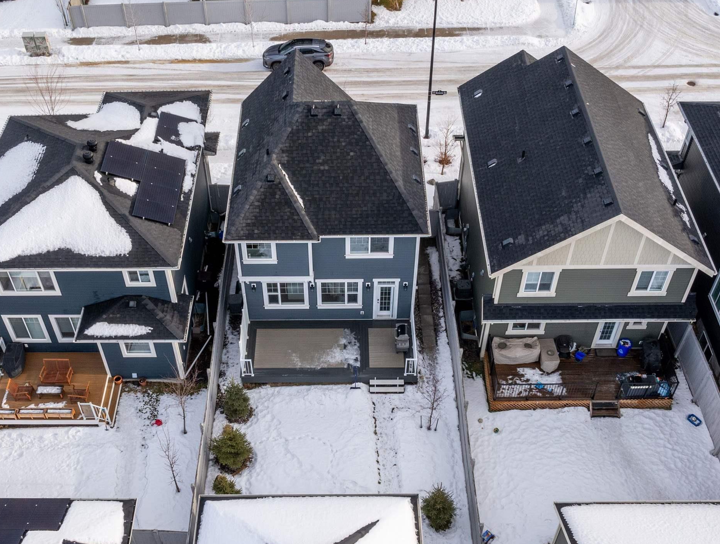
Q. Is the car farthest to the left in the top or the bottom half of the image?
top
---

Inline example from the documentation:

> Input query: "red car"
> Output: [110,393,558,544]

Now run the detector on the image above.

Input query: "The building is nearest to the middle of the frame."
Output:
[220,46,434,321]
